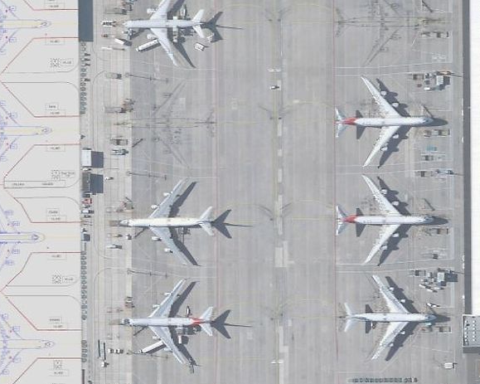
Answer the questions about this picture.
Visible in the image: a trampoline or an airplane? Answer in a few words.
airplane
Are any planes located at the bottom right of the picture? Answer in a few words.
Yes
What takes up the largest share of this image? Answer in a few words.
paved ground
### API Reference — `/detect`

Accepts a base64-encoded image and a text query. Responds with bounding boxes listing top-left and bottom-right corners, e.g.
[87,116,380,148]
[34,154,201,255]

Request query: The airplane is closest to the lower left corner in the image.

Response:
[123,280,216,367]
